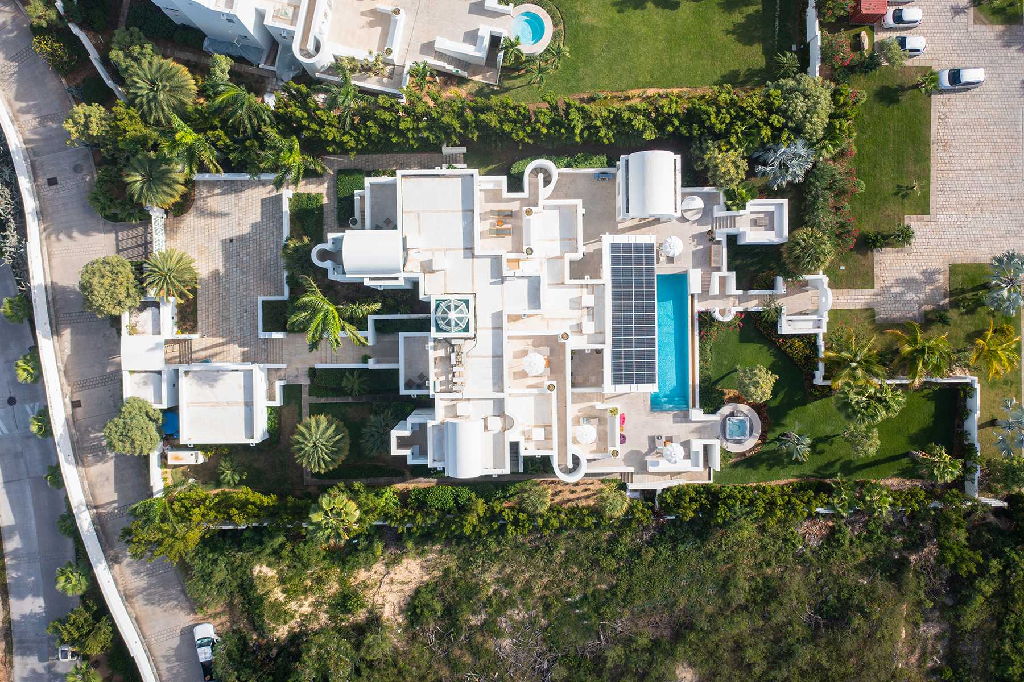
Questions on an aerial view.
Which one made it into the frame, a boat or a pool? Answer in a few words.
pool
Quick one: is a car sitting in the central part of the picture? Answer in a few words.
No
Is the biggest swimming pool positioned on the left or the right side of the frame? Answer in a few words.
right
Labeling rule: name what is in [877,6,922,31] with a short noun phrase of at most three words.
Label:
car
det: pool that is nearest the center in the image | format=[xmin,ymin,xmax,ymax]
[650,269,701,410]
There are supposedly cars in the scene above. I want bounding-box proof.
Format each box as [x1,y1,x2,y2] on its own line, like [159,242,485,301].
[886,0,921,7]
[881,35,924,59]
[933,67,984,92]
[192,623,223,682]
[877,6,922,31]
